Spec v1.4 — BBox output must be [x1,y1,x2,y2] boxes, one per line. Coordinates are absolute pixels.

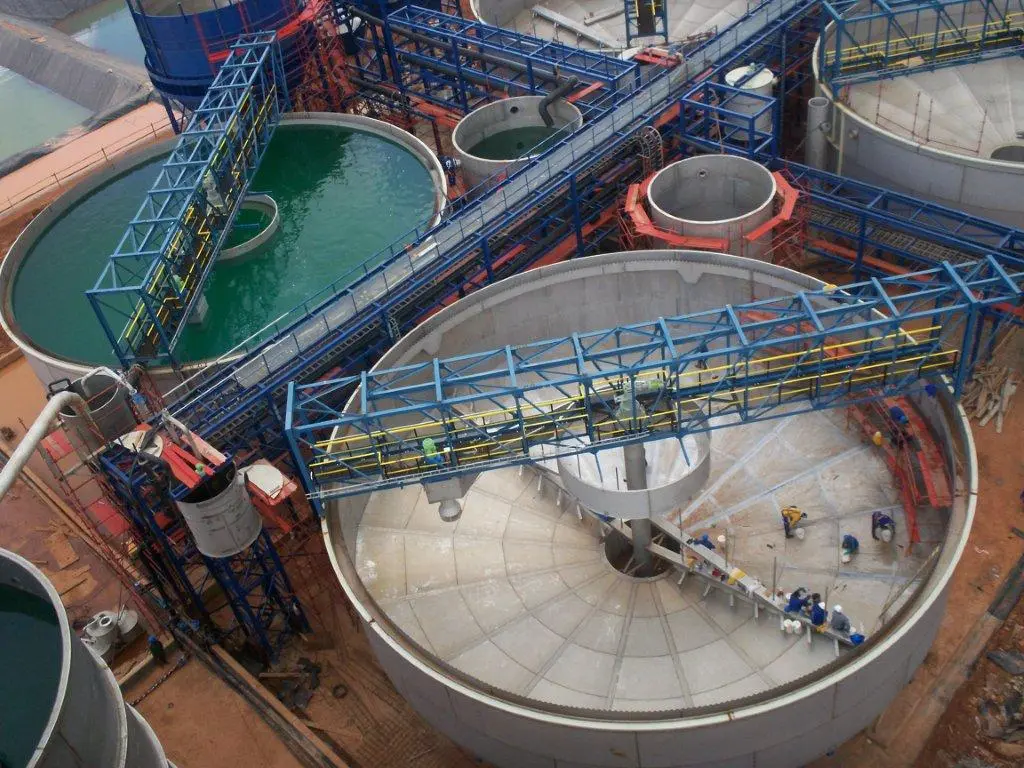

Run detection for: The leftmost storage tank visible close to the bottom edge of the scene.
[0,546,197,768]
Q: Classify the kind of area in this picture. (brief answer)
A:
industrial area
